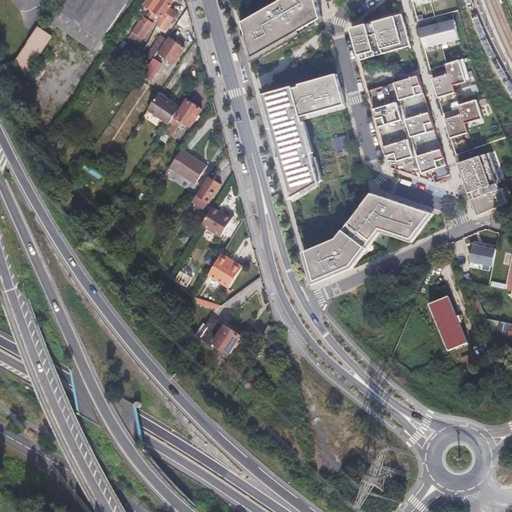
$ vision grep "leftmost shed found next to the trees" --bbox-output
[16,26,52,70]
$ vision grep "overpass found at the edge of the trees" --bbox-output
[0,222,126,512]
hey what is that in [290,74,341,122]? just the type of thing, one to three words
building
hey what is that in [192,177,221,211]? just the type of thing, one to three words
house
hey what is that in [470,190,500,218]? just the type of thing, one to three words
building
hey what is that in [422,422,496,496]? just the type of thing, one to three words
roundabout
